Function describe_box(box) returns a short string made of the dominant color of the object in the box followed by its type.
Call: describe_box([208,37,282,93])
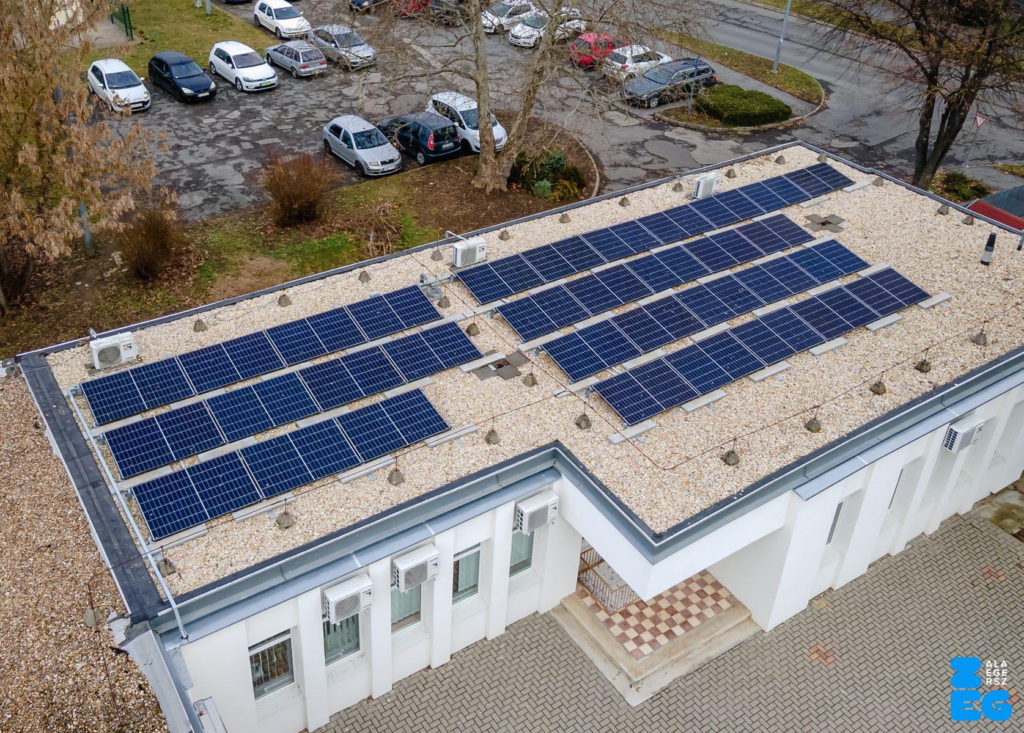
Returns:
white car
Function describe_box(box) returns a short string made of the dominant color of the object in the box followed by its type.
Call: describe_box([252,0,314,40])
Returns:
white car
